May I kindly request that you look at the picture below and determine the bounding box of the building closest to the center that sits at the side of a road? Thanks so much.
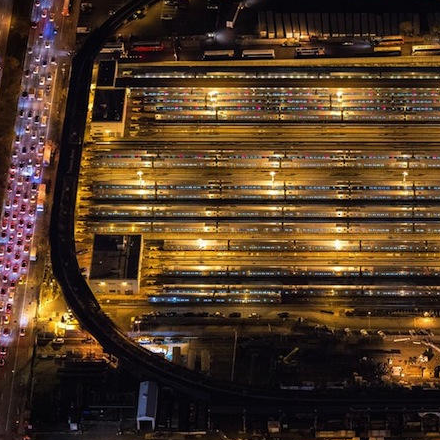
[89,232,143,293]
